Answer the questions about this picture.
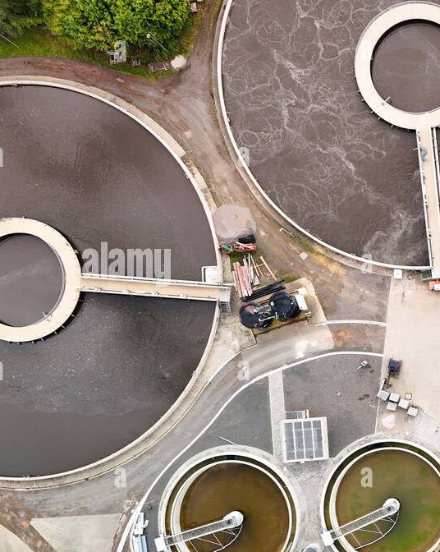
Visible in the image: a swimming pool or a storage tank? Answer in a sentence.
There is a storage tank in the scene.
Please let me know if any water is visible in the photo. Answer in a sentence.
Yes, some water is visible.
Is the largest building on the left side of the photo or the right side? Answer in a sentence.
The largest building appears in the right half of the scene.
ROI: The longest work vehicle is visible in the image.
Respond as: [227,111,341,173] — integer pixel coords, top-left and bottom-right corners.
[387,360,400,386]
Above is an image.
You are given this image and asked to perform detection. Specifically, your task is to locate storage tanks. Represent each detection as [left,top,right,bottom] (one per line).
[212,0,440,279]
[0,75,233,489]
[265,290,300,322]
[321,440,440,552]
[164,452,302,552]
[238,299,270,330]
